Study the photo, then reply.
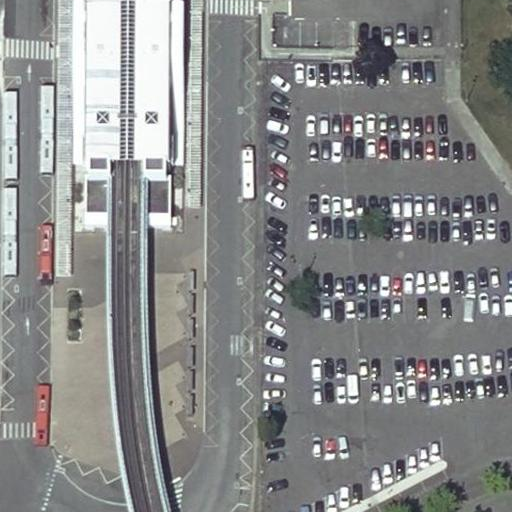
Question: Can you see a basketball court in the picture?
No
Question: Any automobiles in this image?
Yes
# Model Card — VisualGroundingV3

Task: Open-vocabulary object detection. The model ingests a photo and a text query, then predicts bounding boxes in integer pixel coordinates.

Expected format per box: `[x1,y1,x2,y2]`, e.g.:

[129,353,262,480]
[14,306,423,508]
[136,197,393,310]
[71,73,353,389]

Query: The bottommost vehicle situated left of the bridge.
[33,384,52,448]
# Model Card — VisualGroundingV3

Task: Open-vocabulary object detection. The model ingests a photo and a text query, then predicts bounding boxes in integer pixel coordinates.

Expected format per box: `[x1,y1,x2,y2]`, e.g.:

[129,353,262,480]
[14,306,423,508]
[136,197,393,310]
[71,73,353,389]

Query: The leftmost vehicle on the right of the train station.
[242,148,256,202]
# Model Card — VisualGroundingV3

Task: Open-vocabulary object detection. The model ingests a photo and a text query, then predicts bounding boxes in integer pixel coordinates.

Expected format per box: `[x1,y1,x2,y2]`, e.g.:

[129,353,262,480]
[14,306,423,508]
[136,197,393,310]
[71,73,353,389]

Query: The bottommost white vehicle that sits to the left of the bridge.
[4,187,20,278]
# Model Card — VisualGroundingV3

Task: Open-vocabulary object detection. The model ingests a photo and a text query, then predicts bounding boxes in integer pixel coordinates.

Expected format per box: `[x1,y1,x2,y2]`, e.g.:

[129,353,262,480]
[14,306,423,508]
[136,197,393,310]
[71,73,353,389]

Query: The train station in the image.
[74,0,184,231]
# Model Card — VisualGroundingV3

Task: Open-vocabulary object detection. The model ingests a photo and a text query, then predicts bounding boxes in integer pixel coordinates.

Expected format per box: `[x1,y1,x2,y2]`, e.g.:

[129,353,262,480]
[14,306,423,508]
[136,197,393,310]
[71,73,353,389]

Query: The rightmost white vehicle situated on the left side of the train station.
[40,84,56,177]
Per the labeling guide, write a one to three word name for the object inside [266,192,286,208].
car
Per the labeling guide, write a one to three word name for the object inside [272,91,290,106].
car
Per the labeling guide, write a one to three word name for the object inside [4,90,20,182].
vehicle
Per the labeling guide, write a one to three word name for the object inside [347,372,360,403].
vehicle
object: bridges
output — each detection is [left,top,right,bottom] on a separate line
[107,160,172,512]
